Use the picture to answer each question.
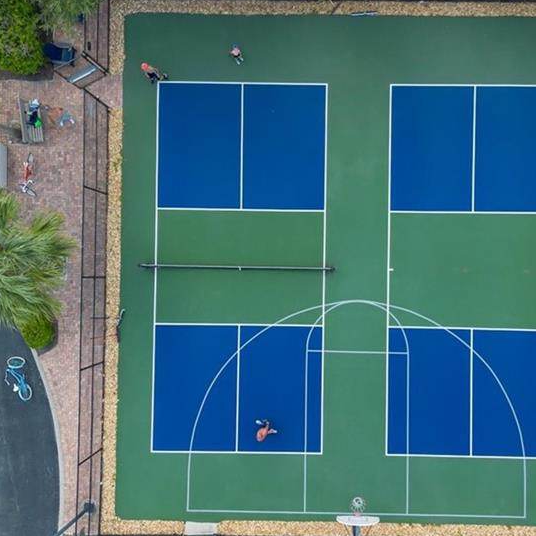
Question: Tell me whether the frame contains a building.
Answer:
No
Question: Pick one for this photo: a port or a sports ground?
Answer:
sports ground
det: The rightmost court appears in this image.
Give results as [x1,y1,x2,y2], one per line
[386,84,536,459]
